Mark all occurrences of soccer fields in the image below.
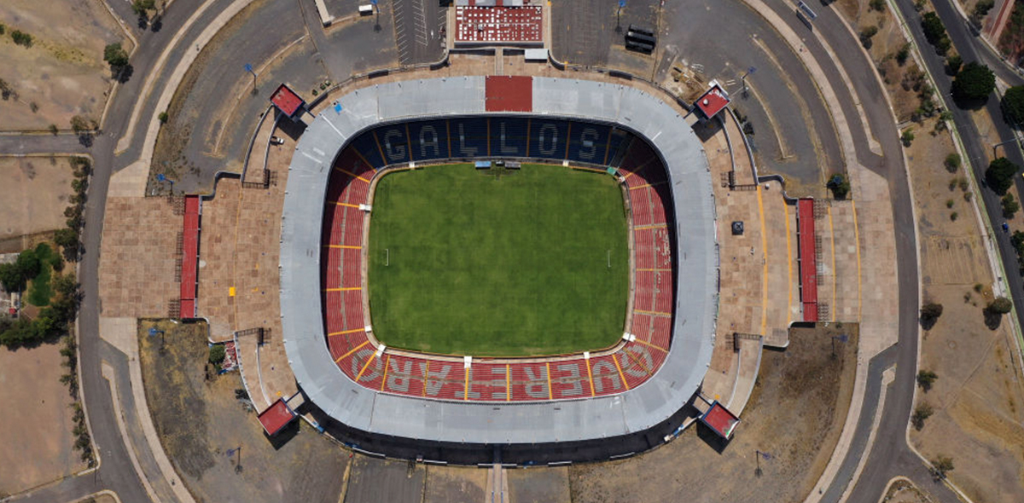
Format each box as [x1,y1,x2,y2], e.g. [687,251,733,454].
[362,157,636,363]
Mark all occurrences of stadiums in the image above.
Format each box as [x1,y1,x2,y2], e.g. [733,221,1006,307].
[278,74,719,444]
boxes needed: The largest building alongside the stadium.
[455,5,543,43]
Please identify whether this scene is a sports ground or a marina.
sports ground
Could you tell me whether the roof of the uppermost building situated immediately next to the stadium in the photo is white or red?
red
